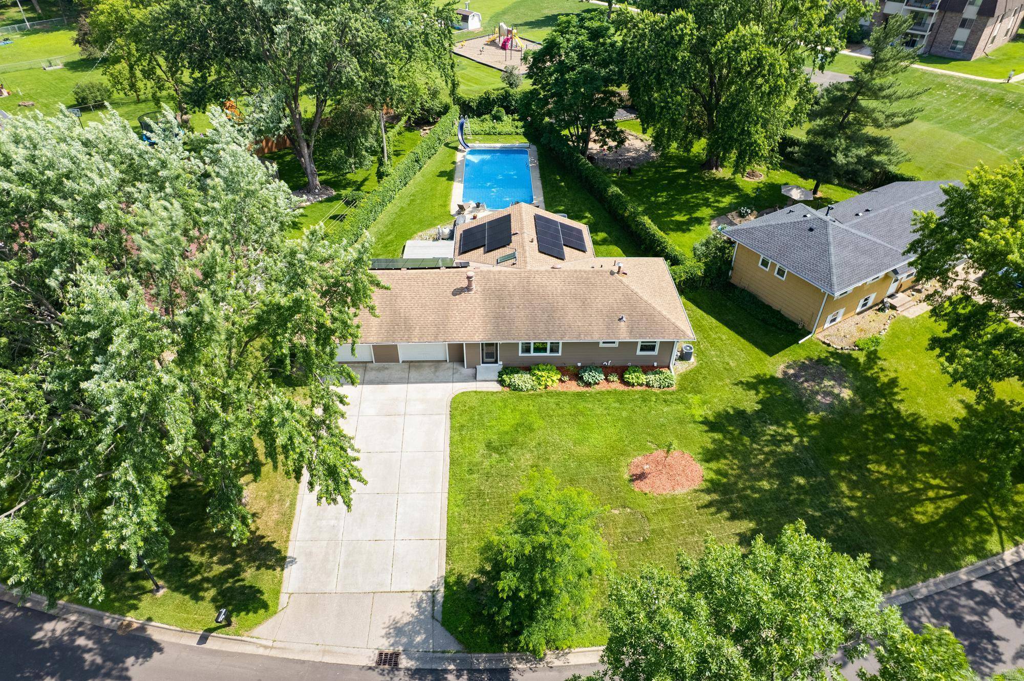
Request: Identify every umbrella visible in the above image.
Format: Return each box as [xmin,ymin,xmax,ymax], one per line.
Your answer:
[779,184,812,206]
